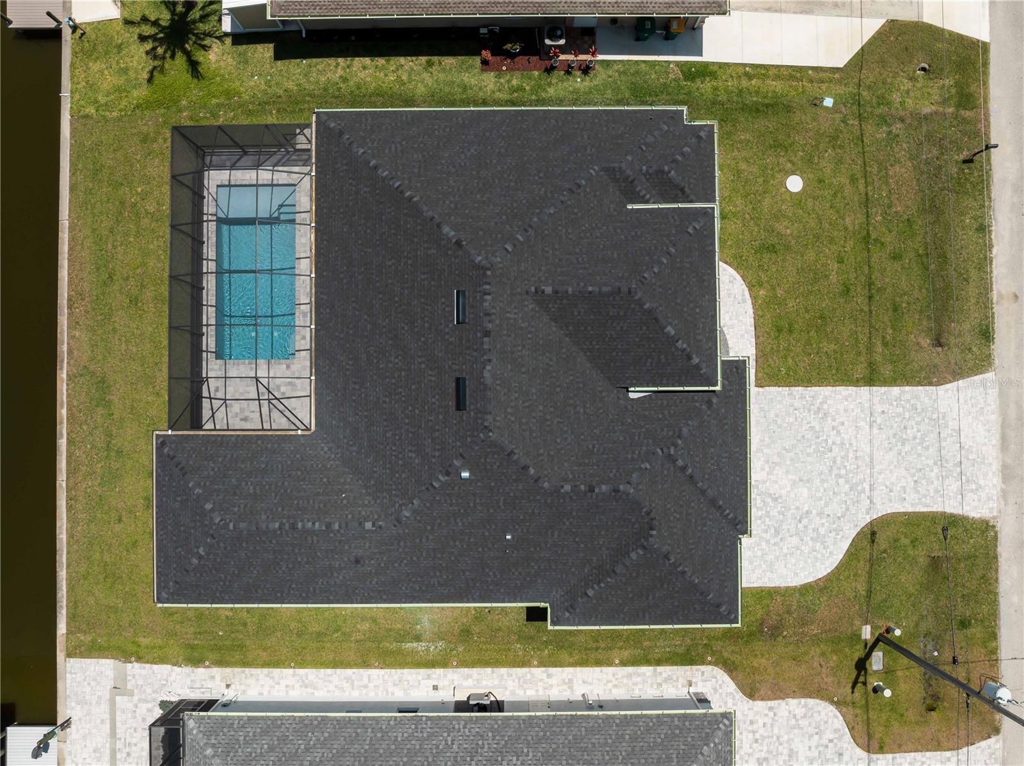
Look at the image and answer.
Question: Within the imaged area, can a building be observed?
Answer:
Yes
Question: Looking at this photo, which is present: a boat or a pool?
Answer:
pool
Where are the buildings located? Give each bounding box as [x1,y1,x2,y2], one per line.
[151,106,752,630]
[183,694,738,766]
[268,0,731,35]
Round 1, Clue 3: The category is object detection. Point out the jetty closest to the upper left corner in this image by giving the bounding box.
[7,0,61,31]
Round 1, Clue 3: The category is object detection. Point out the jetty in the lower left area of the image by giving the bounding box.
[6,724,58,766]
